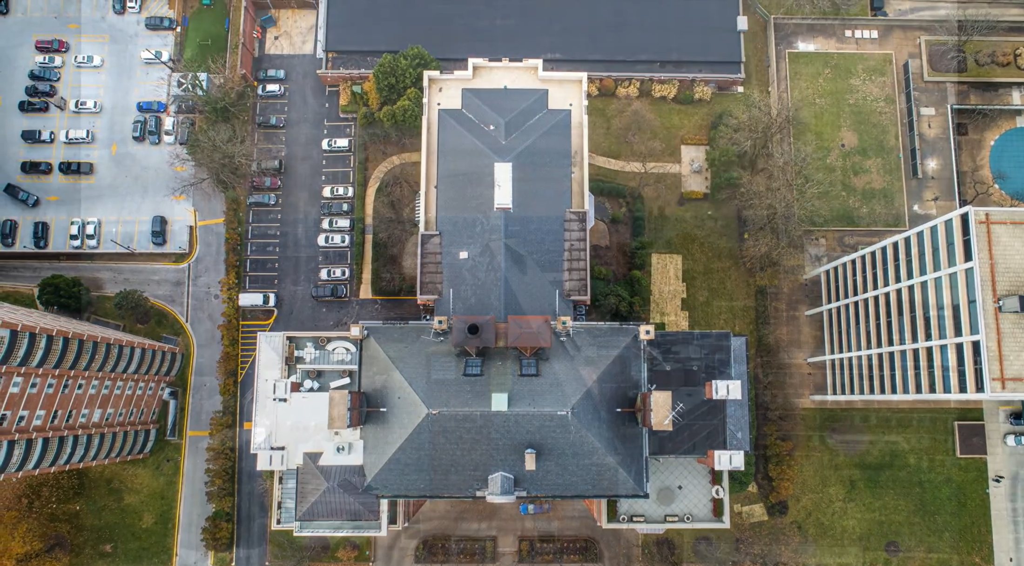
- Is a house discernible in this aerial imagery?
Yes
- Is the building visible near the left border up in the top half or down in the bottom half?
bottom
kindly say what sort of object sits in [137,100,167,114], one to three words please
car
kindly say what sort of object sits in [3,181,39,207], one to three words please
truck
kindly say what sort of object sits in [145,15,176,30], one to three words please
vehicle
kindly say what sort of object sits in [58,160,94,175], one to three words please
vehicle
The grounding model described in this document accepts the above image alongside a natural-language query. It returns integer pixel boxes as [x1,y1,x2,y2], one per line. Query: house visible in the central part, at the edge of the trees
[250,58,750,537]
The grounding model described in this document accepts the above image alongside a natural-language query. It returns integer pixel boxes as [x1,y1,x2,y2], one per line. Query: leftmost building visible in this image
[0,301,184,486]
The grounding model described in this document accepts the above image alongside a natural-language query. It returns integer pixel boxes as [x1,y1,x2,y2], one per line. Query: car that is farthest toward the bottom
[520,502,551,517]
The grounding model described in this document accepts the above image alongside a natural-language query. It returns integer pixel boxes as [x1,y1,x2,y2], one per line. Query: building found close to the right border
[806,205,1024,407]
